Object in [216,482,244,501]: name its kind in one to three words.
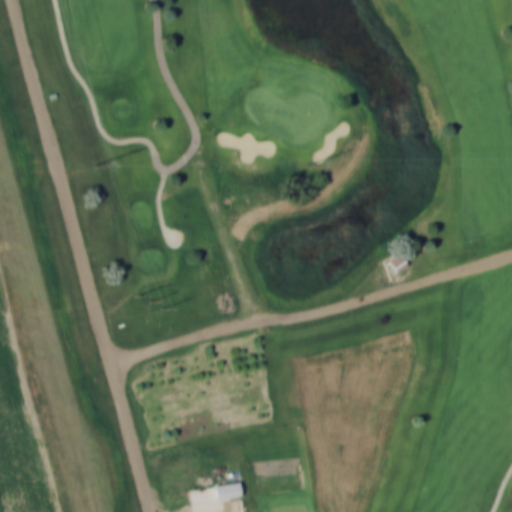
barn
